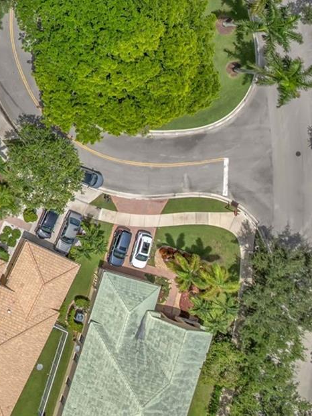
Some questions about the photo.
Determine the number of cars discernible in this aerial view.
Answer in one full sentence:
I count 5 cars.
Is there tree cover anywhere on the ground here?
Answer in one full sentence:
Yes, there is tree cover in the image.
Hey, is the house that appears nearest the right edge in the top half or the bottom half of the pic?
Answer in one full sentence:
It is in the bottom half that the house that appears nearest the right edge appears.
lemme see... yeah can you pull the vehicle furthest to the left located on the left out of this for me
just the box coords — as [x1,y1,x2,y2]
[34,202,62,245]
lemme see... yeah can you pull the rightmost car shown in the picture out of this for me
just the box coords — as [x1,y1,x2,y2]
[126,226,156,270]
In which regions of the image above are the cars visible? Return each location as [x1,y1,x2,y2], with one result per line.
[126,226,156,270]
[52,207,87,258]
[69,166,111,190]
[34,202,62,245]
[105,224,134,268]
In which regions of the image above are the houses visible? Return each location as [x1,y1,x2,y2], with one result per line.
[0,238,81,416]
[52,267,211,416]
